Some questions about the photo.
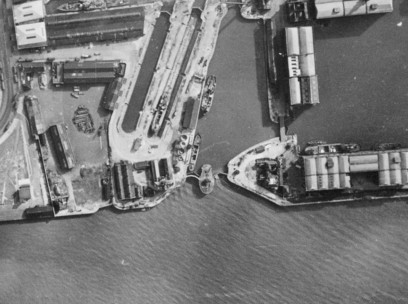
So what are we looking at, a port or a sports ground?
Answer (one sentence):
What you see here is a port.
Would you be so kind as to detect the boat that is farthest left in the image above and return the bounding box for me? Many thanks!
[35,74,51,90]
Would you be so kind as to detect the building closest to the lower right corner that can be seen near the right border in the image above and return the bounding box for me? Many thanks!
[375,168,408,185]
